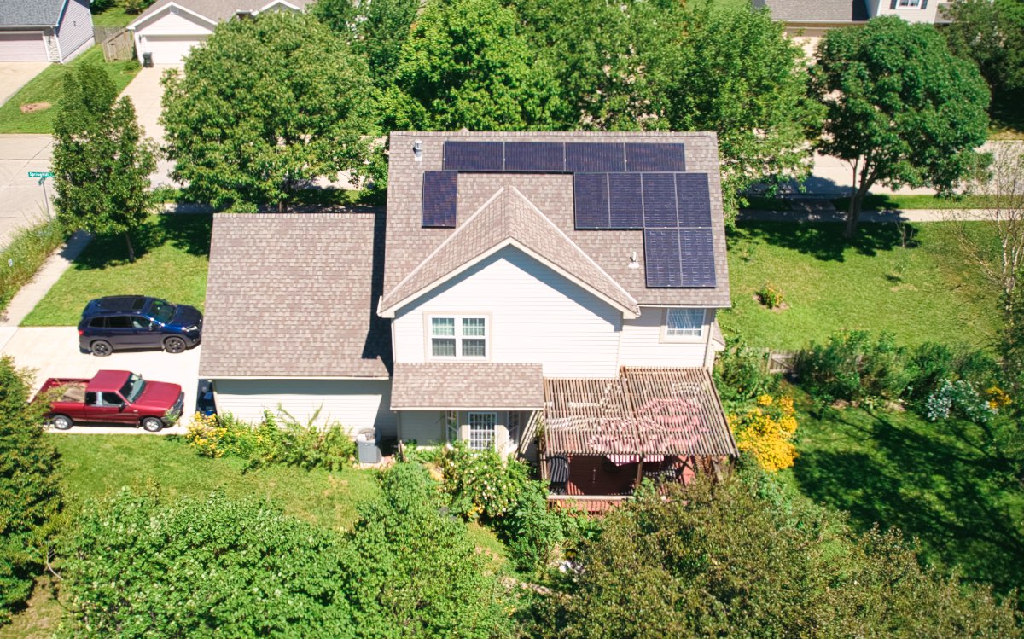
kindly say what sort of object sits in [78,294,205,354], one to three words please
car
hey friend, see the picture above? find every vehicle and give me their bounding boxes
[78,294,205,354]
[27,366,190,428]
